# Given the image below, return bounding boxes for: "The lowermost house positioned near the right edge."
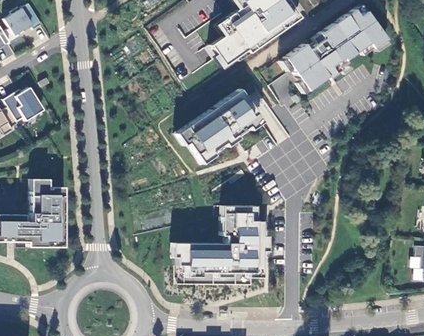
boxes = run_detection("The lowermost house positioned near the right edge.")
[408,246,424,283]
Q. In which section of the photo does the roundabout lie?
bottom left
